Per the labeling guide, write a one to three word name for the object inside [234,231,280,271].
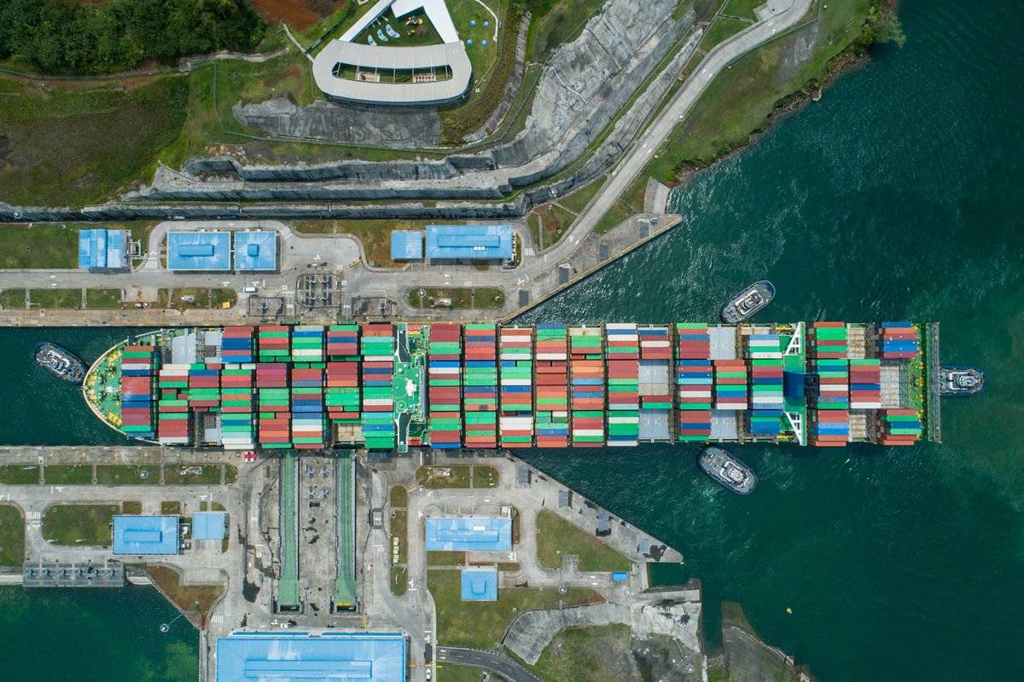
building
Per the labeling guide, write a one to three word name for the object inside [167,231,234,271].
building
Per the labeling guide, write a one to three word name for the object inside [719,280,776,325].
boat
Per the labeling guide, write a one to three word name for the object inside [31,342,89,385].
boat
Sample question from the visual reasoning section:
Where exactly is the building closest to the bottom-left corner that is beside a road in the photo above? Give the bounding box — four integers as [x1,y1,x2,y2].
[112,514,184,555]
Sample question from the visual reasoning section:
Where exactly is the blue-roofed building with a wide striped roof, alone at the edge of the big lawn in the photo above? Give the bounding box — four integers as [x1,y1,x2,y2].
[79,230,124,268]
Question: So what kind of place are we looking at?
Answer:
port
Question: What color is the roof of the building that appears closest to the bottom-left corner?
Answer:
blue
